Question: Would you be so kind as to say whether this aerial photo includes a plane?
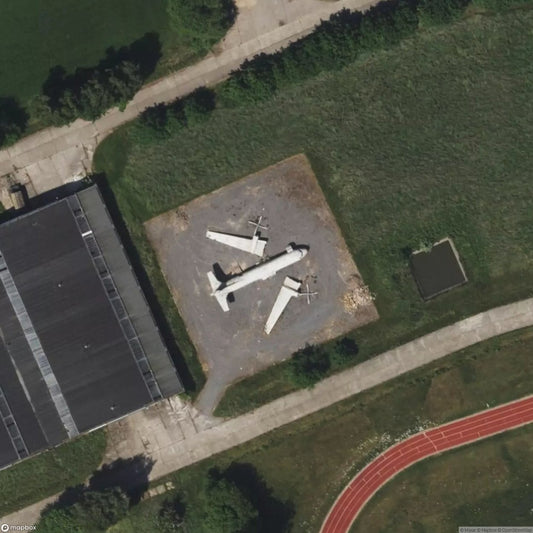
Yes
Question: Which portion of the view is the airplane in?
center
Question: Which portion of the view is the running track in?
bottom right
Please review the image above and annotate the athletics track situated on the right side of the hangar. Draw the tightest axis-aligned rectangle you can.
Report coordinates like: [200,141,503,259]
[318,395,533,533]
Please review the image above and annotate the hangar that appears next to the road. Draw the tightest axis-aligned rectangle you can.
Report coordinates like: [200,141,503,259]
[0,184,184,471]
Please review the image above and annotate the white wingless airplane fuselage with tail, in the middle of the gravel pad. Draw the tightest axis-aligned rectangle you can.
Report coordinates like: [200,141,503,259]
[207,248,308,311]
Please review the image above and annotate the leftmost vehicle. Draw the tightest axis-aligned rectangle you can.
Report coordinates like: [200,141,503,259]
[8,185,26,210]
